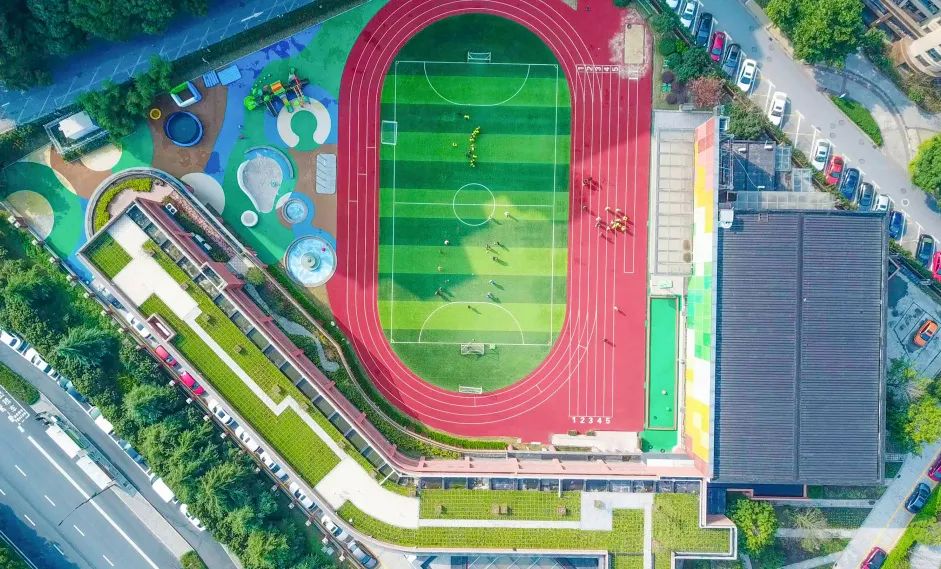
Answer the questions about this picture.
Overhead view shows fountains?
Yes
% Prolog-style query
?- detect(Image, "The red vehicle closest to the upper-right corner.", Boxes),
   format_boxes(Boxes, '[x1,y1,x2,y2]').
[823,154,844,185]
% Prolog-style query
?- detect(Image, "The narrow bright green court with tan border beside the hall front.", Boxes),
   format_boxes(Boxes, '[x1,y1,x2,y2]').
[641,296,680,452]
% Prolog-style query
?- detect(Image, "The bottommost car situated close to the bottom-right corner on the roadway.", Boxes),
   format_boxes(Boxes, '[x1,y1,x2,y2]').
[861,544,888,569]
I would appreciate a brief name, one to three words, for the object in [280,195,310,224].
fountain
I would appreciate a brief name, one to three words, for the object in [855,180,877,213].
car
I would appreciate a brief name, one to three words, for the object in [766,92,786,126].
car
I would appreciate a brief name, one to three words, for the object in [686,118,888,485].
building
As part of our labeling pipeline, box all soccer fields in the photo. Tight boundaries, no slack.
[379,12,571,393]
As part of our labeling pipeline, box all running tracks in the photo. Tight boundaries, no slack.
[326,0,663,440]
